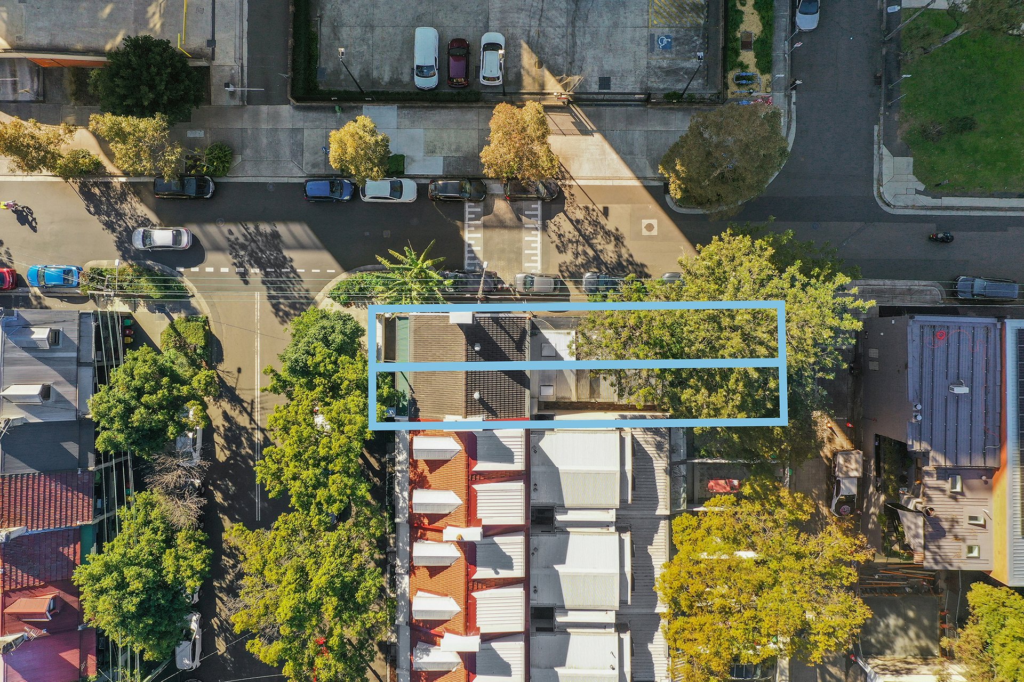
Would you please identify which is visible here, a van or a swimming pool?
van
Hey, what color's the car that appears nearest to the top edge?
blue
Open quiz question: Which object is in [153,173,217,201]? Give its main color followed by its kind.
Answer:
black car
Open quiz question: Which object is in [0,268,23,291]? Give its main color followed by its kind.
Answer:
red car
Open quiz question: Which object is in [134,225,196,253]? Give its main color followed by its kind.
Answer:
gray car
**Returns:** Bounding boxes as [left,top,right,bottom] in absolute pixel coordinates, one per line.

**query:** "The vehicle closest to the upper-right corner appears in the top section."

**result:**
[793,0,823,32]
